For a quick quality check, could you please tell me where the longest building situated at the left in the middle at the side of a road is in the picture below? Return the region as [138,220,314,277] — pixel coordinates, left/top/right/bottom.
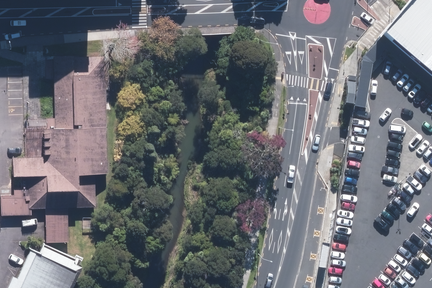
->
[0,57,108,243]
